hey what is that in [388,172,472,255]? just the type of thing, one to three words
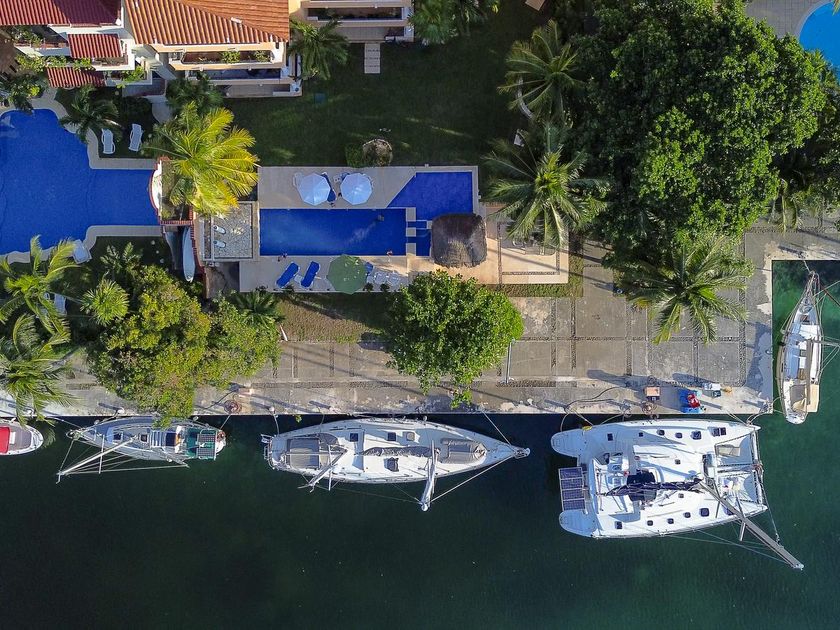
swimming pool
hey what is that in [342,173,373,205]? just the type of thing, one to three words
umbrella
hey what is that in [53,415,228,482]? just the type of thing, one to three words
boat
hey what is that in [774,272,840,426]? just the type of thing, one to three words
boat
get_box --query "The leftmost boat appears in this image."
[0,416,44,455]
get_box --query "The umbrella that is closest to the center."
[327,254,368,294]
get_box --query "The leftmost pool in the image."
[0,99,159,263]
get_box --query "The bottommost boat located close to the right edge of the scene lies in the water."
[550,415,812,573]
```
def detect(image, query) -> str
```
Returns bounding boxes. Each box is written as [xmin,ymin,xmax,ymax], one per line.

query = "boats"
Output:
[53,415,228,482]
[774,272,840,426]
[262,415,531,513]
[0,416,44,455]
[550,415,812,573]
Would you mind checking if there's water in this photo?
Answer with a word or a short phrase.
Yes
